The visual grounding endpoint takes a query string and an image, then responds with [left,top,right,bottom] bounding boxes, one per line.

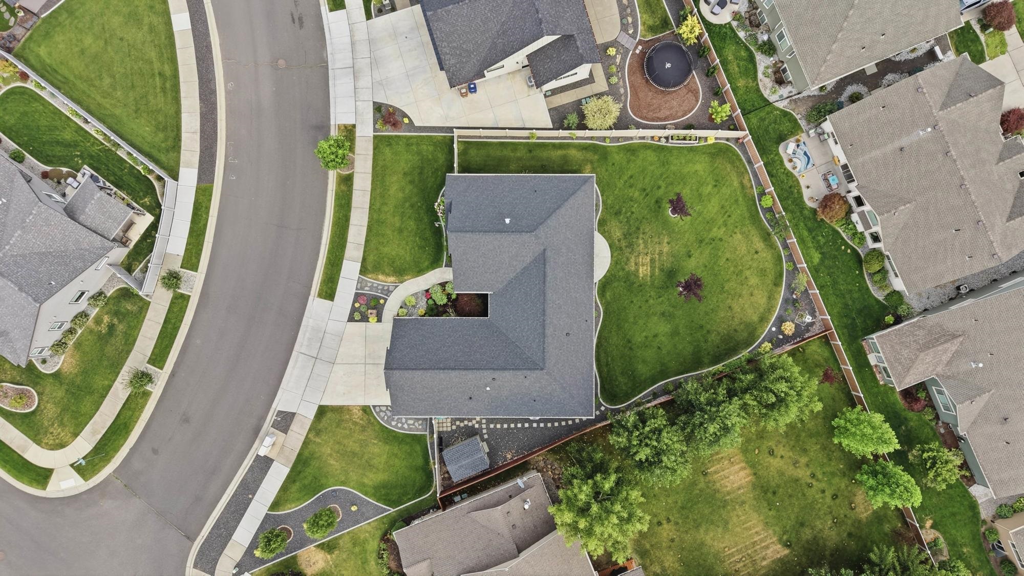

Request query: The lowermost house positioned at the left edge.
[0,150,145,369]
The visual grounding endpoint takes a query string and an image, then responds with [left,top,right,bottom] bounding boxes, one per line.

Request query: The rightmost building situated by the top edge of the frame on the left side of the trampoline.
[419,0,602,95]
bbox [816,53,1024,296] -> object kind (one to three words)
house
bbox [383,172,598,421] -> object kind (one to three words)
house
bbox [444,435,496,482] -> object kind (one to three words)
shed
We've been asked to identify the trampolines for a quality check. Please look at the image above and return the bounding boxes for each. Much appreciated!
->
[641,35,696,93]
